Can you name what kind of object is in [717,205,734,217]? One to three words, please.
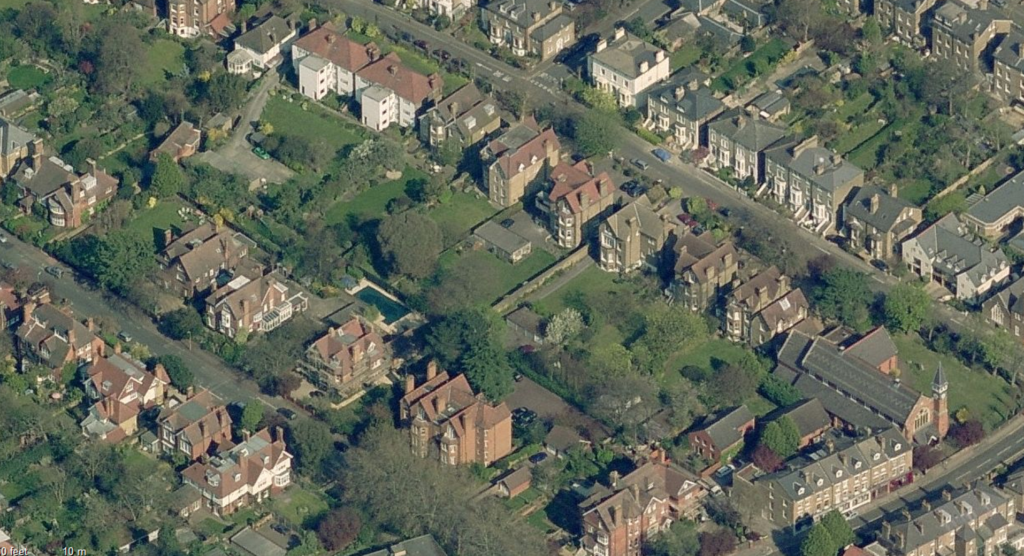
vehicle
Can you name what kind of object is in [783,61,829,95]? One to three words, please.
greenhouse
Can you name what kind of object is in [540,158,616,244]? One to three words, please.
house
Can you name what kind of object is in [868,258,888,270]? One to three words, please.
vehicle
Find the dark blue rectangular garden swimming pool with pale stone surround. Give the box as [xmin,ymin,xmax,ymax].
[350,284,416,328]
